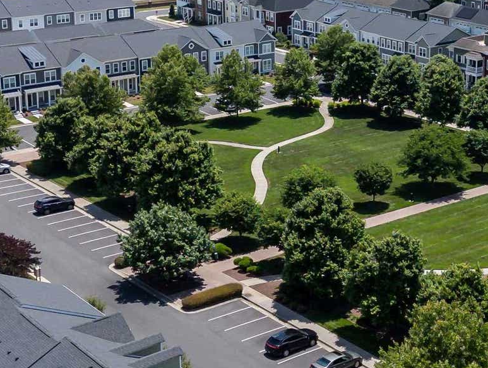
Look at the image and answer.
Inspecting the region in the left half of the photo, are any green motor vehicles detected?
No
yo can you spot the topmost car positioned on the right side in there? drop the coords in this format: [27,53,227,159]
[264,329,322,359]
